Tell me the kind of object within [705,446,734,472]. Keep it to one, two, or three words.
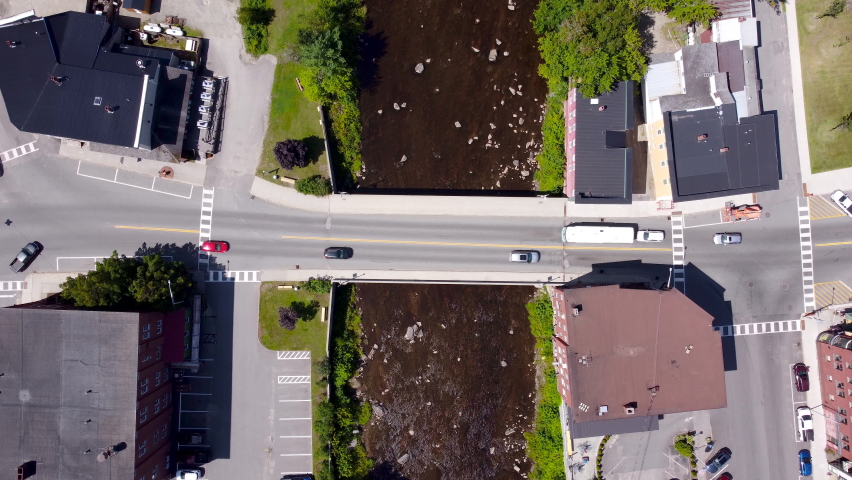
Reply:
car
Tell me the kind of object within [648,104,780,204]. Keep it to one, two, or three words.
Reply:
building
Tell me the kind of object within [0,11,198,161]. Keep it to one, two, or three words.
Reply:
building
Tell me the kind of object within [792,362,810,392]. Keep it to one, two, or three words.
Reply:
car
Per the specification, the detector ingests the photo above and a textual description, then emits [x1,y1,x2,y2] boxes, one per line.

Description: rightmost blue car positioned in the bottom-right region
[797,448,813,475]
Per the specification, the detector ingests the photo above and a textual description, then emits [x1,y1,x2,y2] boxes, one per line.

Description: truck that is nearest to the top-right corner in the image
[830,189,852,221]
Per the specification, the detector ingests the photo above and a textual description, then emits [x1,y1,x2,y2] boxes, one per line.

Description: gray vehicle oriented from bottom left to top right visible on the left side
[8,242,43,273]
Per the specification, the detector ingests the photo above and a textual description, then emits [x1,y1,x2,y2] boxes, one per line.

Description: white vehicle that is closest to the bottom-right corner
[796,406,815,443]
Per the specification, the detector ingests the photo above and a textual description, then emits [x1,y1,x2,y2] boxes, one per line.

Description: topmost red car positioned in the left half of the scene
[201,240,230,253]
